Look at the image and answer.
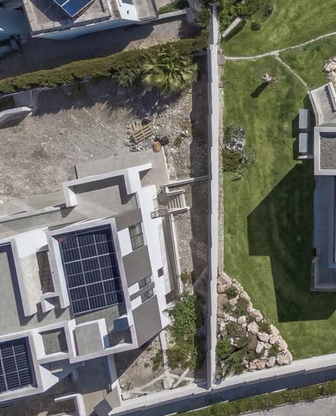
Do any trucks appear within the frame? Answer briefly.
No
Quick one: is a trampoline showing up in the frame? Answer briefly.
No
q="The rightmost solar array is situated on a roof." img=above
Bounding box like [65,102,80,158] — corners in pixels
[59,229,126,316]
